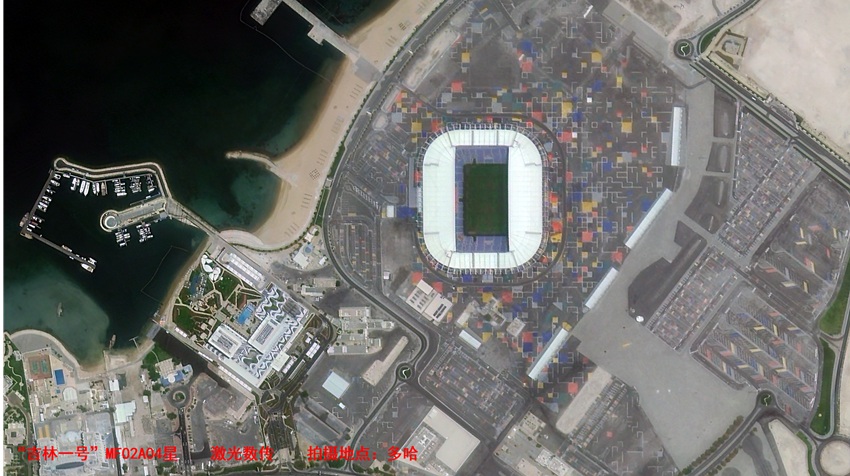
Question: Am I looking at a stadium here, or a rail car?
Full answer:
There is a stadium in the scene.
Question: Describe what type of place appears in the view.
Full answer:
This looks like a port.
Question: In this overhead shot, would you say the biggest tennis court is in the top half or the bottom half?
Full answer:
It is in the bottom half that the biggest tennis court appears.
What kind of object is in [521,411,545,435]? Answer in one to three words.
building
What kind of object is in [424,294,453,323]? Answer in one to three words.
building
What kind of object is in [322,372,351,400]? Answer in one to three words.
shed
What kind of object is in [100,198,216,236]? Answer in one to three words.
pier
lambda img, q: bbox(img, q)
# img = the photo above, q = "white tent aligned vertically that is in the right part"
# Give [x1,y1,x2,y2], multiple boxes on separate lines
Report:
[672,107,685,166]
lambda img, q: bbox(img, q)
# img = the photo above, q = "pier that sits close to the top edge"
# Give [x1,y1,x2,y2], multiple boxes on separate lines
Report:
[251,0,362,60]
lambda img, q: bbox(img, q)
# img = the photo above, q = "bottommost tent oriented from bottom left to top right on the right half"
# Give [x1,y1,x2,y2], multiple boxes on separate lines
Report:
[529,328,569,380]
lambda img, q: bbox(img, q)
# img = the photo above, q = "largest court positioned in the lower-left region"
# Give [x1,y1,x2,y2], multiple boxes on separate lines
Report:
[29,355,51,380]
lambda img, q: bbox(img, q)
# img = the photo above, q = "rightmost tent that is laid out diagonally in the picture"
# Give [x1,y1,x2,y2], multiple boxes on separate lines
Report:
[625,188,672,248]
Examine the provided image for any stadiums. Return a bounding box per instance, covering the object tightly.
[417,121,553,276]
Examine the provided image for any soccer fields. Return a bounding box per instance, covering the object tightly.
[463,160,509,239]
